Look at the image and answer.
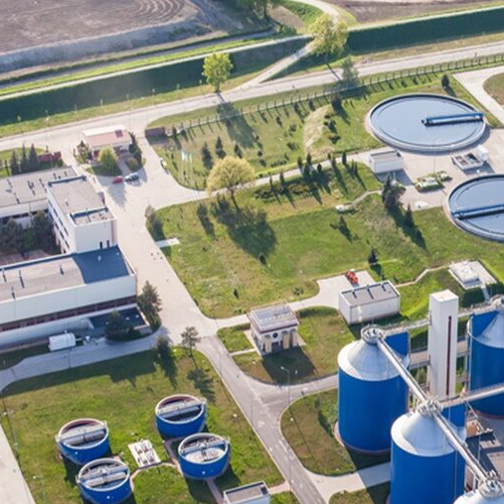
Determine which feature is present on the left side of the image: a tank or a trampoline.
tank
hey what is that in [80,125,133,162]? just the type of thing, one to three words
building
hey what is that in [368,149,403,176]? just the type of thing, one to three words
shed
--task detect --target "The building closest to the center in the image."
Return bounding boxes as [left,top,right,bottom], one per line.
[246,301,303,354]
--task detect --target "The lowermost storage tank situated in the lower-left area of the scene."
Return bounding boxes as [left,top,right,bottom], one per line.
[74,459,135,504]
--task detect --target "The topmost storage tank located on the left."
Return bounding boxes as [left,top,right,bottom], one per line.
[154,393,210,442]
